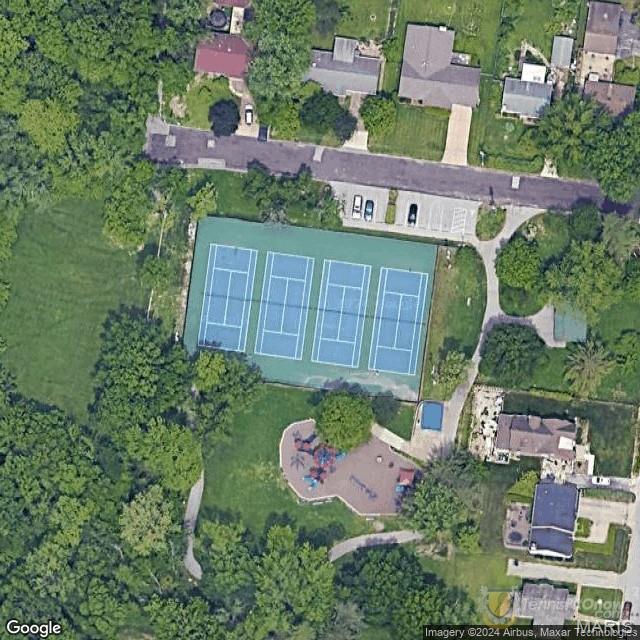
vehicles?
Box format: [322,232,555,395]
[622,600,632,620]
[408,202,418,226]
[592,476,611,486]
[244,104,253,124]
[258,121,268,141]
[352,194,363,218]
[365,199,375,221]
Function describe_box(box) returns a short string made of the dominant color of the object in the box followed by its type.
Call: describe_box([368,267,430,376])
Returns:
blue tennis court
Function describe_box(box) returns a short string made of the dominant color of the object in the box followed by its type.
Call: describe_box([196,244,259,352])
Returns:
blue tennis court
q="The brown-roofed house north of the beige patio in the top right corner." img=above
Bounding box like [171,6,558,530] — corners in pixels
[584,1,622,56]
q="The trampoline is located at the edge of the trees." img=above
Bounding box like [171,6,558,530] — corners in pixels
[209,9,227,26]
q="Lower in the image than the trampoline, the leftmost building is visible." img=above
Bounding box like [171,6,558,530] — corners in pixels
[194,31,249,79]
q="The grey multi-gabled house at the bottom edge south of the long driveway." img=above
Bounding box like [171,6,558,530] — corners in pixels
[511,584,577,640]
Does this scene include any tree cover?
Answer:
Yes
